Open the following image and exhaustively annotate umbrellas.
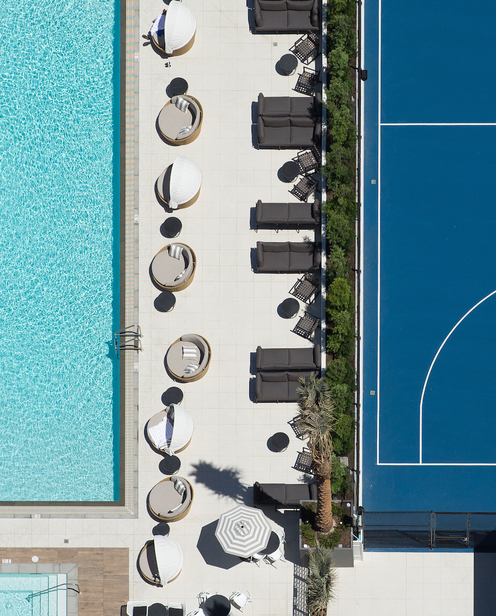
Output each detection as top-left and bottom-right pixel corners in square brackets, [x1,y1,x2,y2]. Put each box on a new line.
[214,506,270,563]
